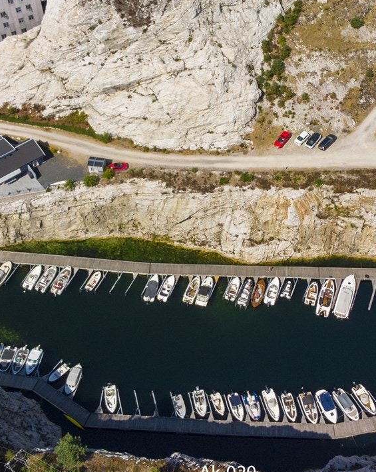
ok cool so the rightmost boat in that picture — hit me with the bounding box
[349,381,375,416]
